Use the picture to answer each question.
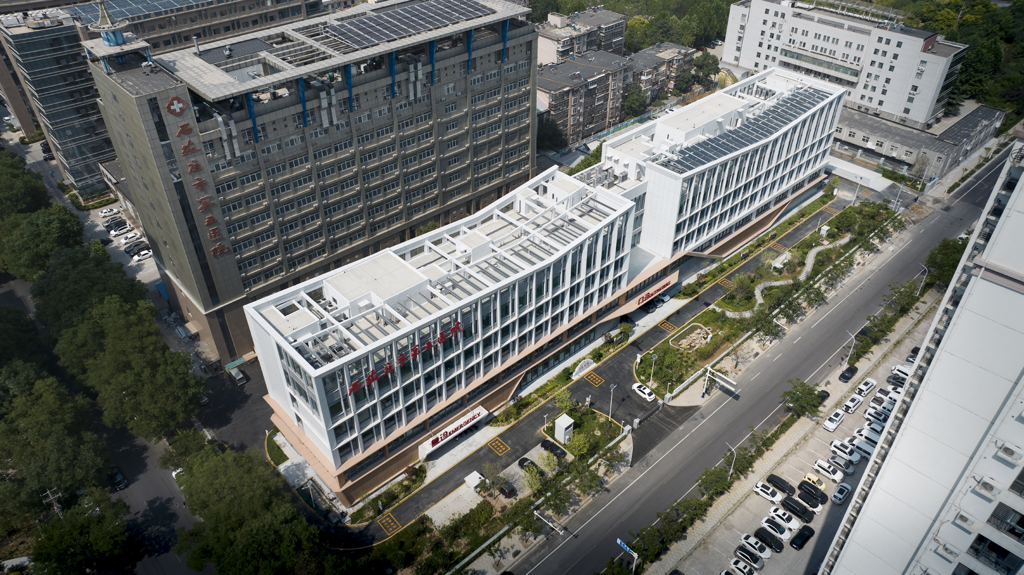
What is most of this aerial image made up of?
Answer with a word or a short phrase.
buildings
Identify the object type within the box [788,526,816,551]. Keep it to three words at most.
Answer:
car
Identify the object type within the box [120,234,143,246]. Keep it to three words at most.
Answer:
vehicle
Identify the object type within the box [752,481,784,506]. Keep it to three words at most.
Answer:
car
